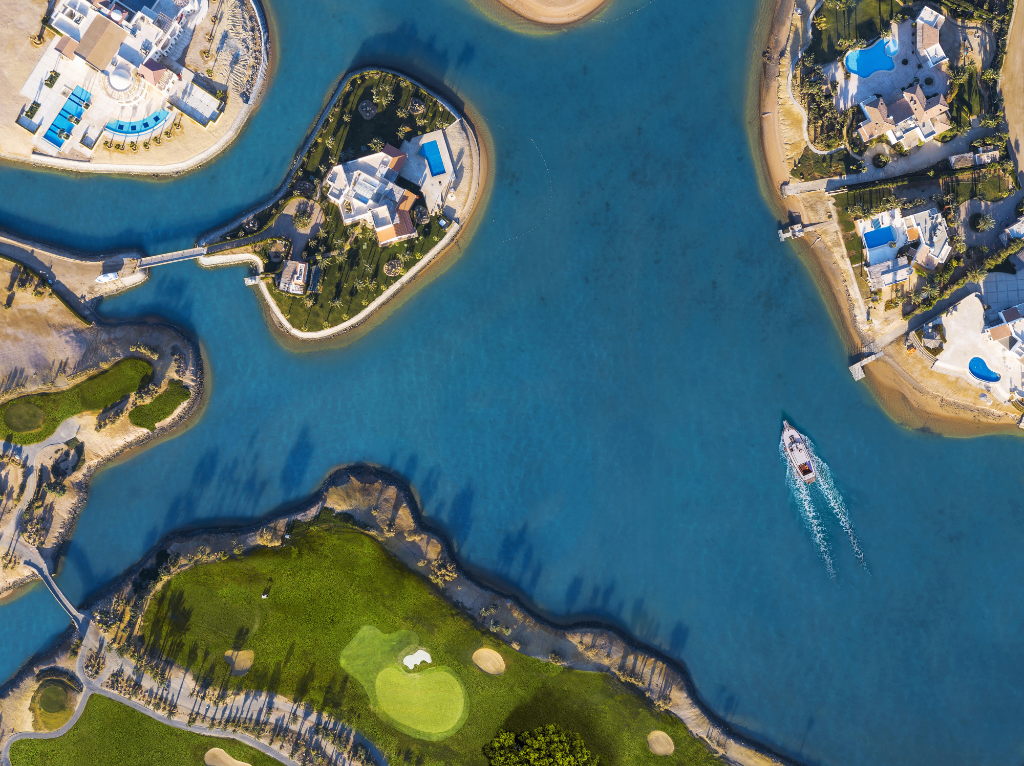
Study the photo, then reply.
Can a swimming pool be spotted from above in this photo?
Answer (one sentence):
Yes, there's a swimming pool down there.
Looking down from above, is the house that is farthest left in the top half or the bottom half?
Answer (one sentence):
The house that is farthest left sits in the top half of the picture.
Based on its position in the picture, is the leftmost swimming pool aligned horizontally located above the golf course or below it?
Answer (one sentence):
In the image, the leftmost swimming pool aligned horizontally sits above the golf course.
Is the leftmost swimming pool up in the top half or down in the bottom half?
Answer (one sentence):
The top half of the photo is where the leftmost swimming pool is.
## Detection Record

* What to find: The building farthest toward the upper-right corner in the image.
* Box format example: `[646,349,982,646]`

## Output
[915,6,948,69]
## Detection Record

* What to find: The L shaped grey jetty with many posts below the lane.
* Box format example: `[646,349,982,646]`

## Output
[848,350,884,381]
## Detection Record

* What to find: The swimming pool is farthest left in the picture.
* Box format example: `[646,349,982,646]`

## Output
[42,84,93,149]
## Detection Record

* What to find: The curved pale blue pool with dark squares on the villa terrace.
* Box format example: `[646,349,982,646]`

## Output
[104,106,172,137]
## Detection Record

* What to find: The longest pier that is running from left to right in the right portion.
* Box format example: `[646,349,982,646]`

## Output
[776,222,827,242]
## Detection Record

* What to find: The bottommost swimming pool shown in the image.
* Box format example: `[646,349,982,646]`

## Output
[968,357,1001,382]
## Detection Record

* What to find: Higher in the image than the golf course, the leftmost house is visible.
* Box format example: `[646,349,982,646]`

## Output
[52,0,198,113]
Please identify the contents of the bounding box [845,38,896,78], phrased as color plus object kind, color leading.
blue swimming pool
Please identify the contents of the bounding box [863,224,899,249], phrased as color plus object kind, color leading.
blue swimming pool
